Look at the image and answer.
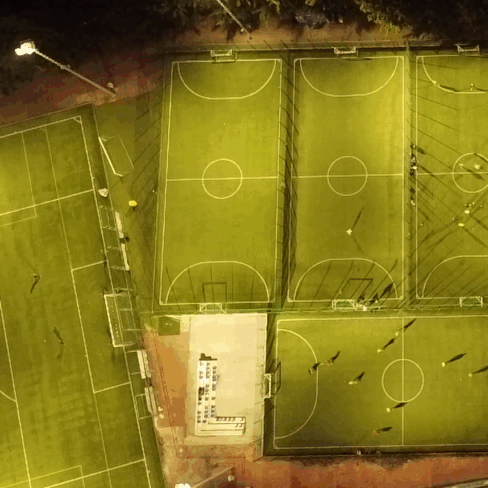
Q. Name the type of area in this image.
sports ground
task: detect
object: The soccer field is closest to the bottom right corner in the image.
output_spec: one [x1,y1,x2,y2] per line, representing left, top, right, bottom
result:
[264,309,488,455]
